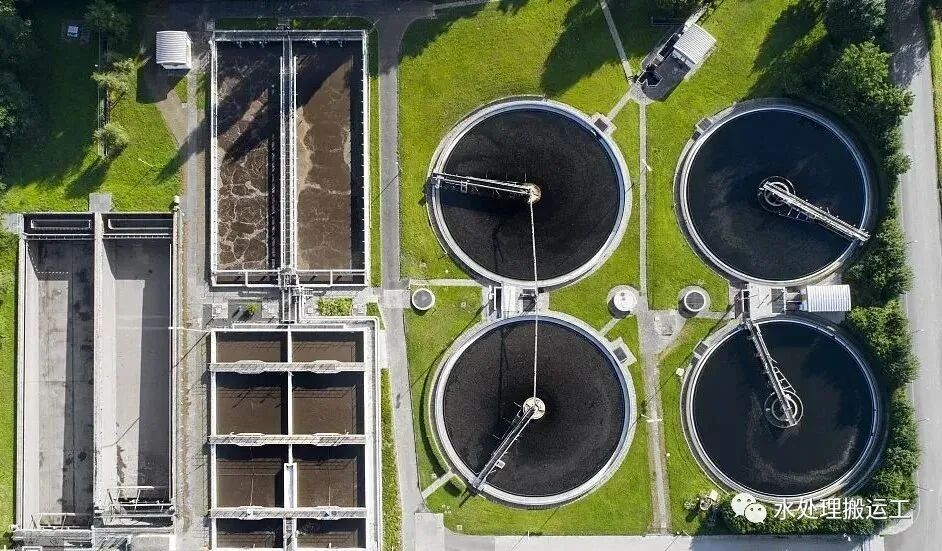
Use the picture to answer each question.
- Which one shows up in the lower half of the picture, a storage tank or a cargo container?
storage tank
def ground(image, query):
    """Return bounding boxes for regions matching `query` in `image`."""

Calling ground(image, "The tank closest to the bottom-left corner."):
[205,324,377,551]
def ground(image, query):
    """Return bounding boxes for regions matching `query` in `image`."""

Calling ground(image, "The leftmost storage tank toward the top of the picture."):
[208,29,369,286]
